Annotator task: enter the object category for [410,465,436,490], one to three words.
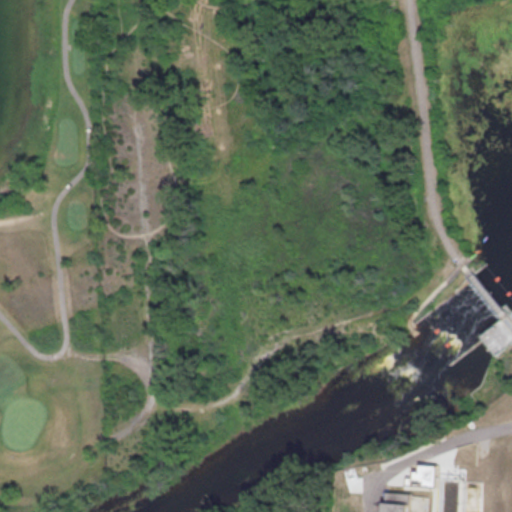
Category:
building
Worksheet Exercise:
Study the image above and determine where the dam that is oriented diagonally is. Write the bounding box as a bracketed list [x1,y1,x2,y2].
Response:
[460,262,504,318]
